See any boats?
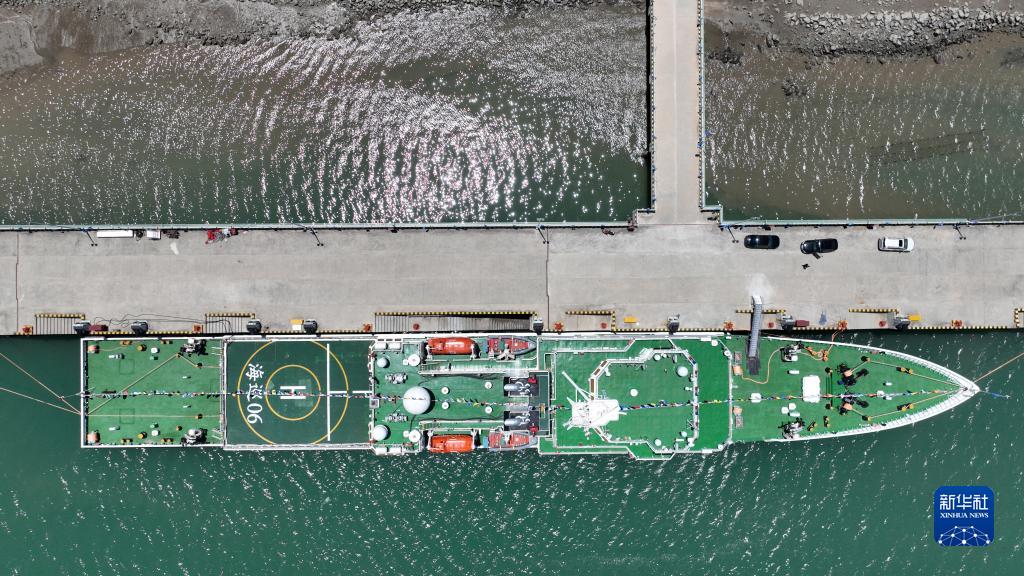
Yes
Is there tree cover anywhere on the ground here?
No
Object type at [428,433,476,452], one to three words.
boat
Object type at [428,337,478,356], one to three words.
boat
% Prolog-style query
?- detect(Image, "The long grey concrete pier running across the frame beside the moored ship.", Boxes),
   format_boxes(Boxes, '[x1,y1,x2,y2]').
[0,204,1024,335]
